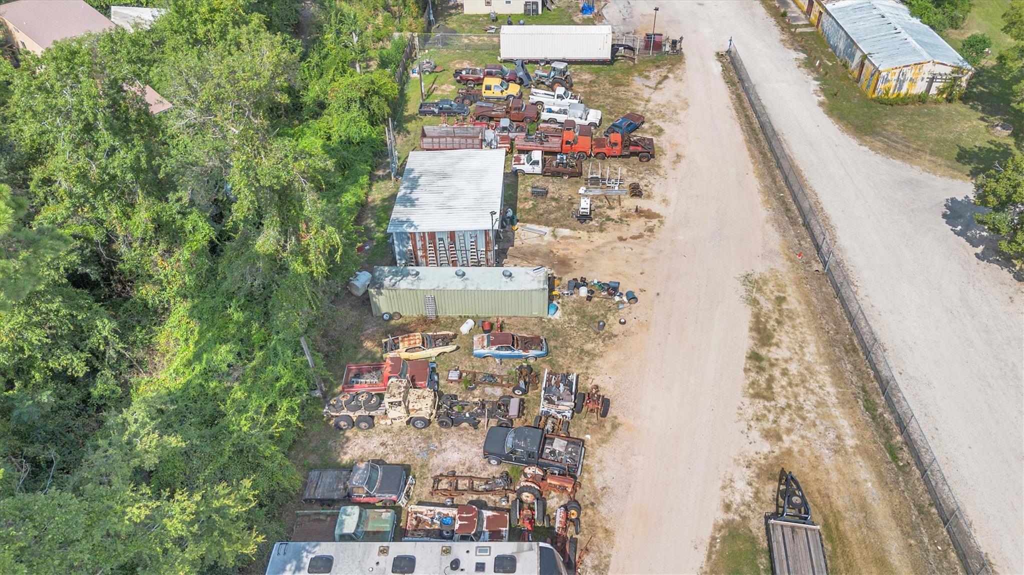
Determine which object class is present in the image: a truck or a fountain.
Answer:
truck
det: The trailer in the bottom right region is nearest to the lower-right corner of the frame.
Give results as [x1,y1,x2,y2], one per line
[766,471,827,575]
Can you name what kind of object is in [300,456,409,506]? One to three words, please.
truck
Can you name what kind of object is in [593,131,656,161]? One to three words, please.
truck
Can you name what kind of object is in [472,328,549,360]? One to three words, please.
car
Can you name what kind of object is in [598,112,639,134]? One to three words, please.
car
